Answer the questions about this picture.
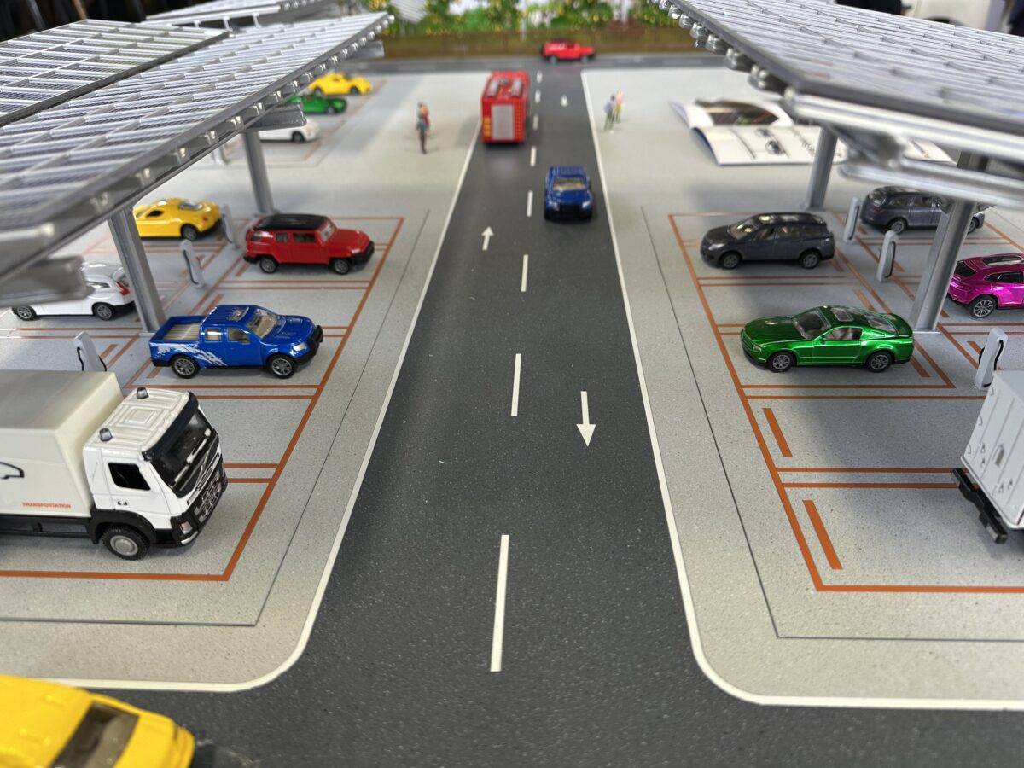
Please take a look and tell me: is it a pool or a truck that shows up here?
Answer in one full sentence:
I can see a truck in this picture.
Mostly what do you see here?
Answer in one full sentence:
The largest share of the image is taken up by paved ground.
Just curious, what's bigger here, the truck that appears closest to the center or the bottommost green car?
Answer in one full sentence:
Compared with the truck, the car is the bigger one.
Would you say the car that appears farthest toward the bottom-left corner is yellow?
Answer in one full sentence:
Yes, the car that appears farthest toward the bottom-left corner is yellow.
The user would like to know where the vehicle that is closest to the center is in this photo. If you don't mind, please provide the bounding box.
[544,167,595,222]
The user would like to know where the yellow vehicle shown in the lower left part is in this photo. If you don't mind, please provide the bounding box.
[0,686,192,768]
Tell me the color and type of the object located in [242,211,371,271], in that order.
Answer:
red car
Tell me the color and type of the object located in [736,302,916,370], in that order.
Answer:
green car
